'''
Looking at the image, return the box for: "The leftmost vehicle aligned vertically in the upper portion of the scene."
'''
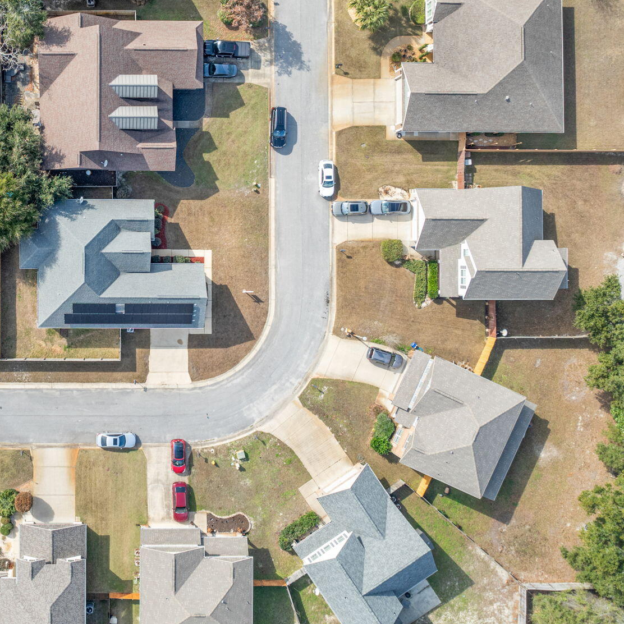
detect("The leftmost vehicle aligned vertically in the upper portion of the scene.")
[268,107,288,149]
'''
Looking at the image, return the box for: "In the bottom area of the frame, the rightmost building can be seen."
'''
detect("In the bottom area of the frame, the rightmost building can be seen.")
[387,349,538,501]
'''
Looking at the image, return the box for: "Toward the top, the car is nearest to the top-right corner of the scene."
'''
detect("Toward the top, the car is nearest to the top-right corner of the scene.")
[368,199,411,217]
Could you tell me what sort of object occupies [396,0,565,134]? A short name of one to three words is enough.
house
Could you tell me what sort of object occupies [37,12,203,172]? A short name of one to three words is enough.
house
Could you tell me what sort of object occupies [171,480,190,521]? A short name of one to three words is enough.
car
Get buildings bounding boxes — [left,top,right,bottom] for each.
[409,185,568,301]
[293,462,438,624]
[37,12,203,172]
[387,349,538,501]
[396,0,565,134]
[0,516,86,624]
[19,199,208,329]
[140,523,254,624]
